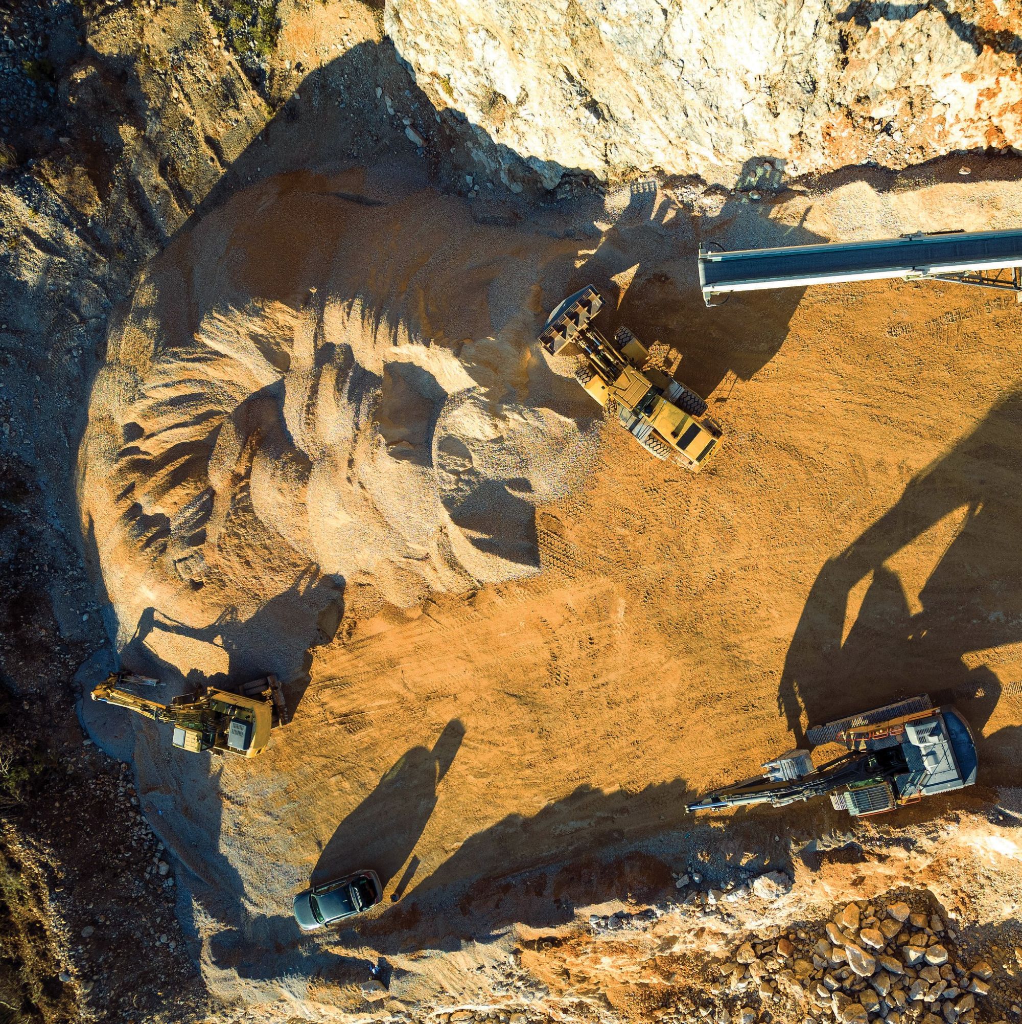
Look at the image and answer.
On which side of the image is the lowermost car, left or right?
left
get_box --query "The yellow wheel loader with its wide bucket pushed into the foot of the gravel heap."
[533,289,724,476]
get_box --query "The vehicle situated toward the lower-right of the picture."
[681,690,979,819]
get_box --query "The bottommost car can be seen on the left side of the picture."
[291,866,384,929]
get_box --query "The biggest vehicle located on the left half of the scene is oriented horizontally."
[99,669,294,757]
